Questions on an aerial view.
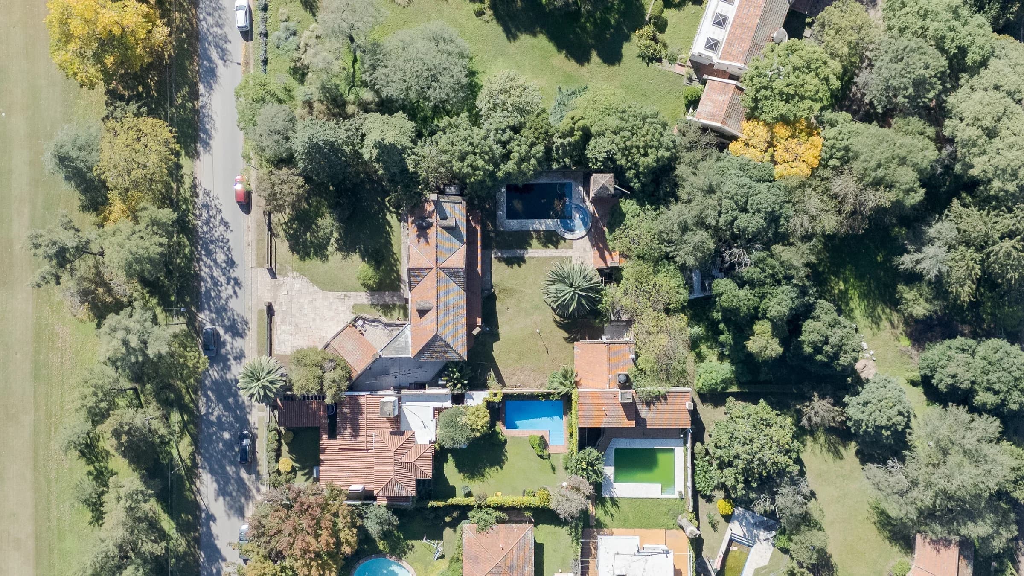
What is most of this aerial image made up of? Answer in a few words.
trees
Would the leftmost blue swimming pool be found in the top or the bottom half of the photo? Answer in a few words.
bottom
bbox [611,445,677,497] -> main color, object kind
green swimming pool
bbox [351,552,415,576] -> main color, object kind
blue swimming pool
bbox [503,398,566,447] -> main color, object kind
blue swimming pool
